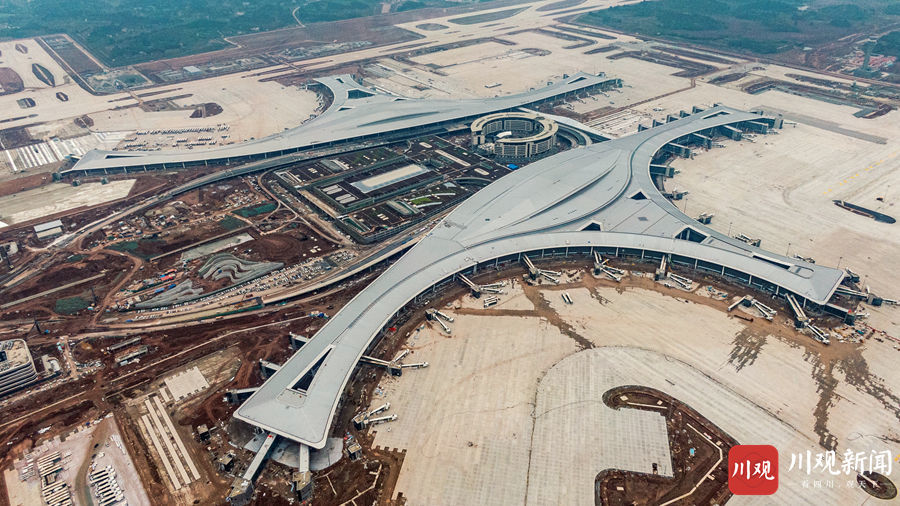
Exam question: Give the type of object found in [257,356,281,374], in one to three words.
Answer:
jet bridge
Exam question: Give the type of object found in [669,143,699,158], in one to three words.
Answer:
jet bridge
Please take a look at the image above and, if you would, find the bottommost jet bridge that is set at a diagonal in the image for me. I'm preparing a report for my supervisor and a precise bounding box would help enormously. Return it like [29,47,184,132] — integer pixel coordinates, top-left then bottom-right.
[230,434,278,506]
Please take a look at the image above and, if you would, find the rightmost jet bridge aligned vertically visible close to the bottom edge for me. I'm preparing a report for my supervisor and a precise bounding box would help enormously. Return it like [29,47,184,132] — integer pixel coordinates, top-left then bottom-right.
[292,445,310,499]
